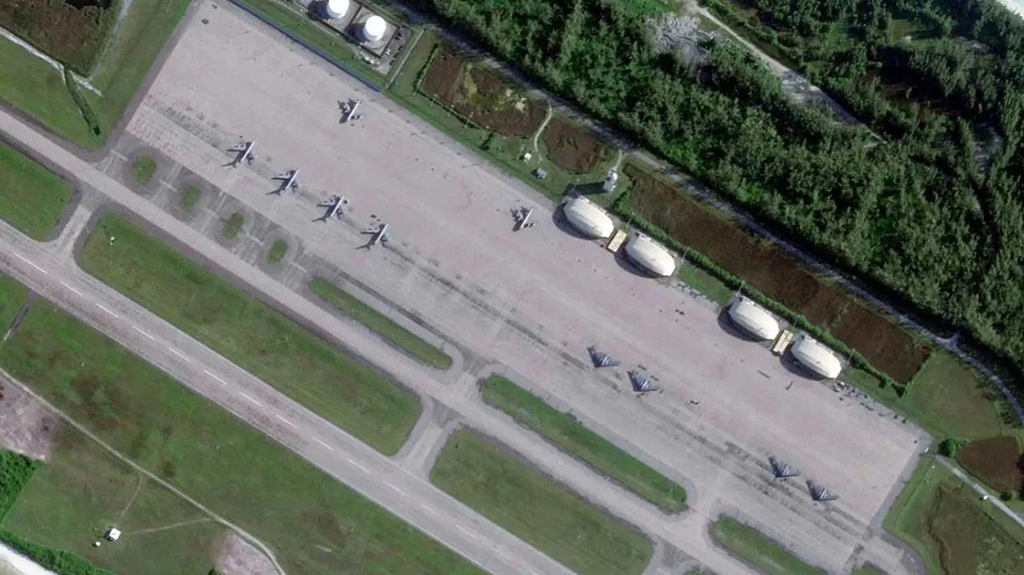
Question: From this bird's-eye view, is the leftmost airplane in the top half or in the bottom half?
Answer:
top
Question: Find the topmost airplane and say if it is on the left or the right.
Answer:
left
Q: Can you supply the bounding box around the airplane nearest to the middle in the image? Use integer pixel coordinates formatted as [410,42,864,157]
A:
[518,204,543,228]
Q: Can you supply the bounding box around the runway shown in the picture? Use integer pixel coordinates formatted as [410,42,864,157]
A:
[0,220,576,575]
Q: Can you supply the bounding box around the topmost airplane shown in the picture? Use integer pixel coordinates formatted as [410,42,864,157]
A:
[345,97,369,120]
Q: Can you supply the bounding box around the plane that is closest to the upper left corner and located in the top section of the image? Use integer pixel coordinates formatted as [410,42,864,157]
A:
[228,142,257,168]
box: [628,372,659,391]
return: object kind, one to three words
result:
airplane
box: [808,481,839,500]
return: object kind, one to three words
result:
airplane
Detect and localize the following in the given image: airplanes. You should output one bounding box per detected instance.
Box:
[317,196,346,222]
[590,347,621,366]
[345,97,369,120]
[518,204,543,228]
[228,142,257,168]
[769,458,800,477]
[272,169,301,195]
[808,481,839,500]
[628,372,659,391]
[362,224,391,250]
